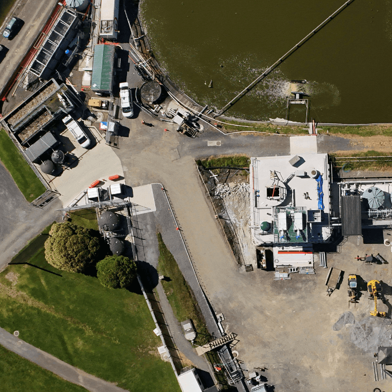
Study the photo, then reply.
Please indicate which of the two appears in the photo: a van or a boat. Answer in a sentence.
Looking from above, you can make out a van.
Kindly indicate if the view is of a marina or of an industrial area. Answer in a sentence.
The picture captures an industrial area.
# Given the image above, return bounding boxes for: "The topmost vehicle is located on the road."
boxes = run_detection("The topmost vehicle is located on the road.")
[2,14,20,41]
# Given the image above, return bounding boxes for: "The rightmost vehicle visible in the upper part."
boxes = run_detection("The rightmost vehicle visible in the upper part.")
[117,83,134,118]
